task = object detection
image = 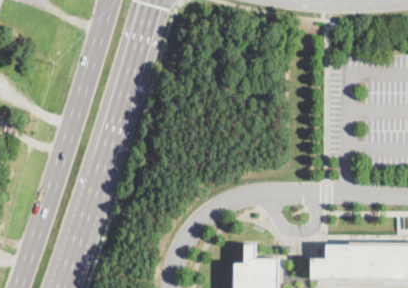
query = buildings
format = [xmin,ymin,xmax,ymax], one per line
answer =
[310,242,408,281]
[233,243,278,288]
